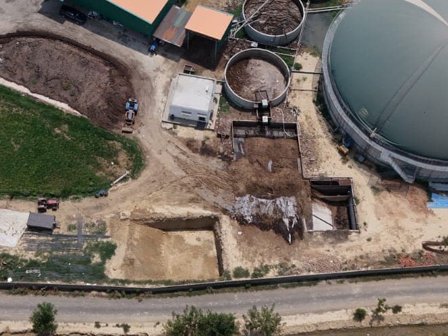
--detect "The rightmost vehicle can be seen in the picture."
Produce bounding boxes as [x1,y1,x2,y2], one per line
[145,35,161,54]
